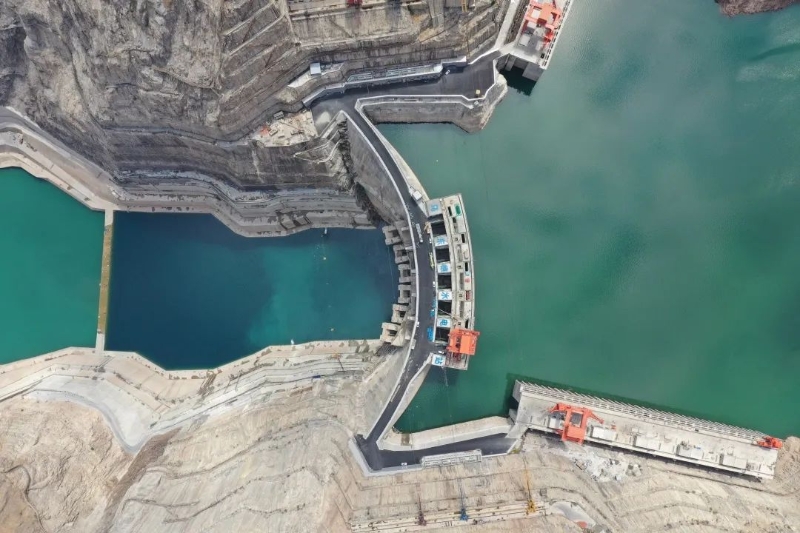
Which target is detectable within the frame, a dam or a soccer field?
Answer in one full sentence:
It is a dam that can be seen here.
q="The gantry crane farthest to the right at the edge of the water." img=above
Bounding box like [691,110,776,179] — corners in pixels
[552,396,598,445]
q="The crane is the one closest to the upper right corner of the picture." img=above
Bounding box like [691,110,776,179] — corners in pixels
[514,0,567,48]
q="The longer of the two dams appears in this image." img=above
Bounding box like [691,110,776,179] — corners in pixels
[341,106,474,440]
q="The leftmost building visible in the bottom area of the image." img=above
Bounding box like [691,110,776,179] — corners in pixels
[422,448,482,467]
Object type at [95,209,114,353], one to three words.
dam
